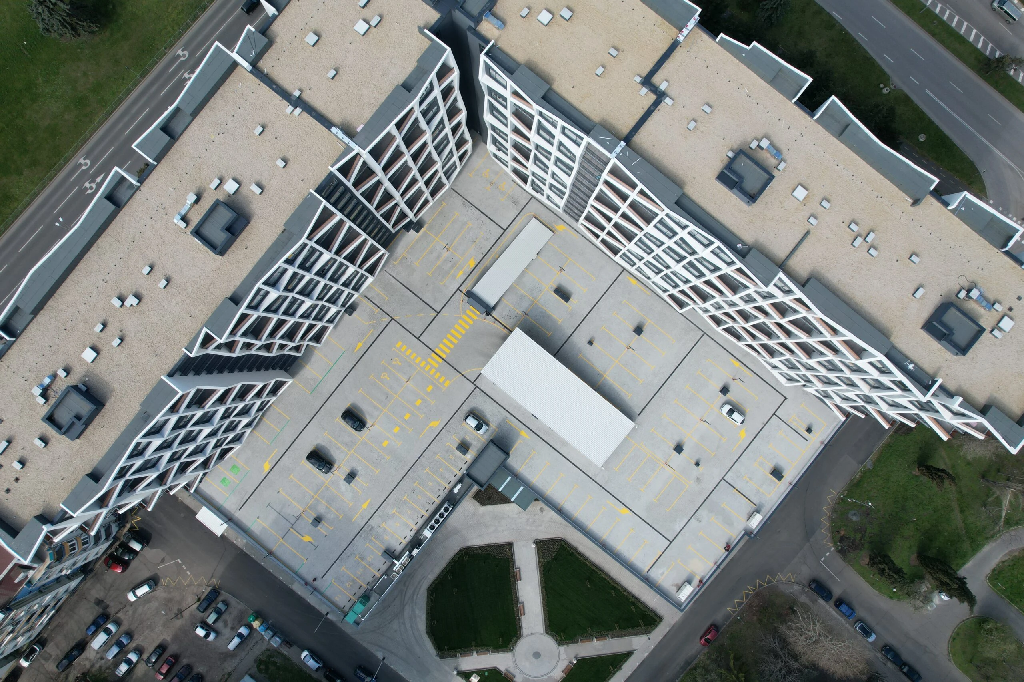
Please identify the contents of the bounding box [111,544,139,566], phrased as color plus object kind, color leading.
black car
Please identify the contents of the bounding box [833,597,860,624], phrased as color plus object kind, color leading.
blue car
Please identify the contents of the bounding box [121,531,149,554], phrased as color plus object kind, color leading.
black car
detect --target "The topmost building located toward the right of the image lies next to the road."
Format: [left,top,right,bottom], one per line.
[452,0,1024,456]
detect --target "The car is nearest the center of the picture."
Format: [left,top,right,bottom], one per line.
[462,412,489,436]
